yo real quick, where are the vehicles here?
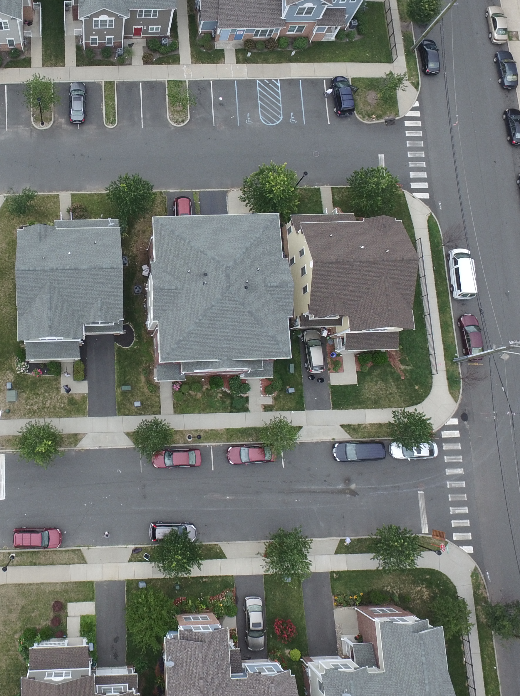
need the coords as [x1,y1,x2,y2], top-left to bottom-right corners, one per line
[13,526,62,551]
[331,439,388,463]
[173,193,192,216]
[418,39,441,76]
[302,330,326,373]
[503,109,520,146]
[494,51,520,91]
[325,77,362,117]
[226,444,278,466]
[152,449,202,470]
[387,441,440,462]
[449,249,481,300]
[68,82,87,125]
[458,315,487,361]
[484,6,510,45]
[243,596,269,651]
